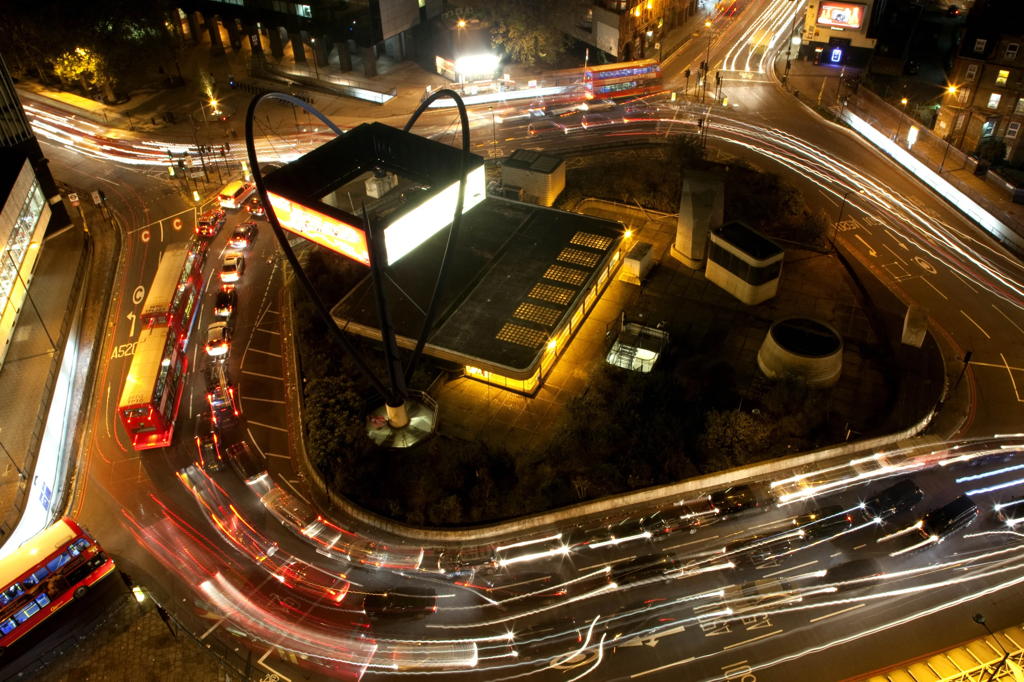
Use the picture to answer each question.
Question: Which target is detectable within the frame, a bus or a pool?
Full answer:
Of the two, only a bus appears.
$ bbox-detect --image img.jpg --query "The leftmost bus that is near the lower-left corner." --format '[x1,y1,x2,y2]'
[0,521,110,665]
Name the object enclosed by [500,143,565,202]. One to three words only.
building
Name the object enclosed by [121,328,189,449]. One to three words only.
bus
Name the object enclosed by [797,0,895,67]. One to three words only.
building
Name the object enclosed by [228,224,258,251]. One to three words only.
car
